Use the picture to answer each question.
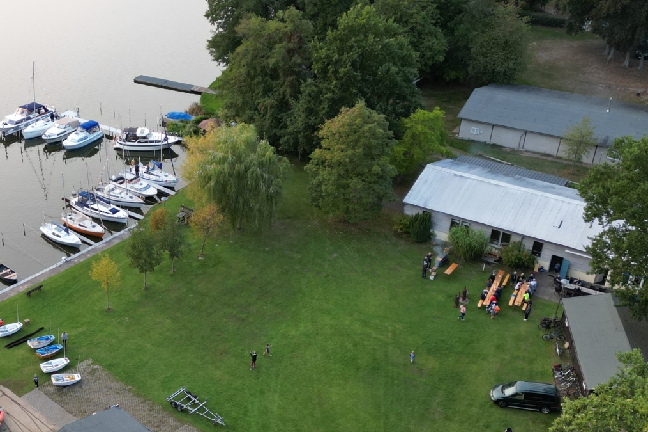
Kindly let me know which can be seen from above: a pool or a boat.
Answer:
boat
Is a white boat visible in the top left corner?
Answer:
Yes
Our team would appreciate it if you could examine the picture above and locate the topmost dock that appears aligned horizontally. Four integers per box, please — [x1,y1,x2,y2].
[133,74,205,92]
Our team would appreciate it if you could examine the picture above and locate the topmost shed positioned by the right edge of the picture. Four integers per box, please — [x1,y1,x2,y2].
[454,84,648,168]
